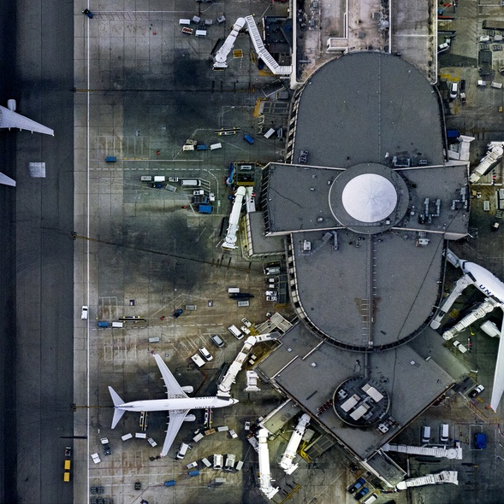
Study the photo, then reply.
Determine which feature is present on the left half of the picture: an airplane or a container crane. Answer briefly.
airplane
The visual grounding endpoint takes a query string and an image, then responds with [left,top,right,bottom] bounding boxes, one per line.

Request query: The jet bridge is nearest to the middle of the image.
[219,183,247,253]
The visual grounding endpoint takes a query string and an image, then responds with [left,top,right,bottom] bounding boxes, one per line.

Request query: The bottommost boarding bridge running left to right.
[393,468,462,493]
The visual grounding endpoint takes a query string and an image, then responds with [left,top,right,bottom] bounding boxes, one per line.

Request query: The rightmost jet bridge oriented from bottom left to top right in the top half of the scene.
[469,135,504,186]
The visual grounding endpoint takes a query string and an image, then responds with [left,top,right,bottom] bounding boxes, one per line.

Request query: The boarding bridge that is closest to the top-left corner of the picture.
[211,14,290,77]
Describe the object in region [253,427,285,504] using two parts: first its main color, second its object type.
white jet bridge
